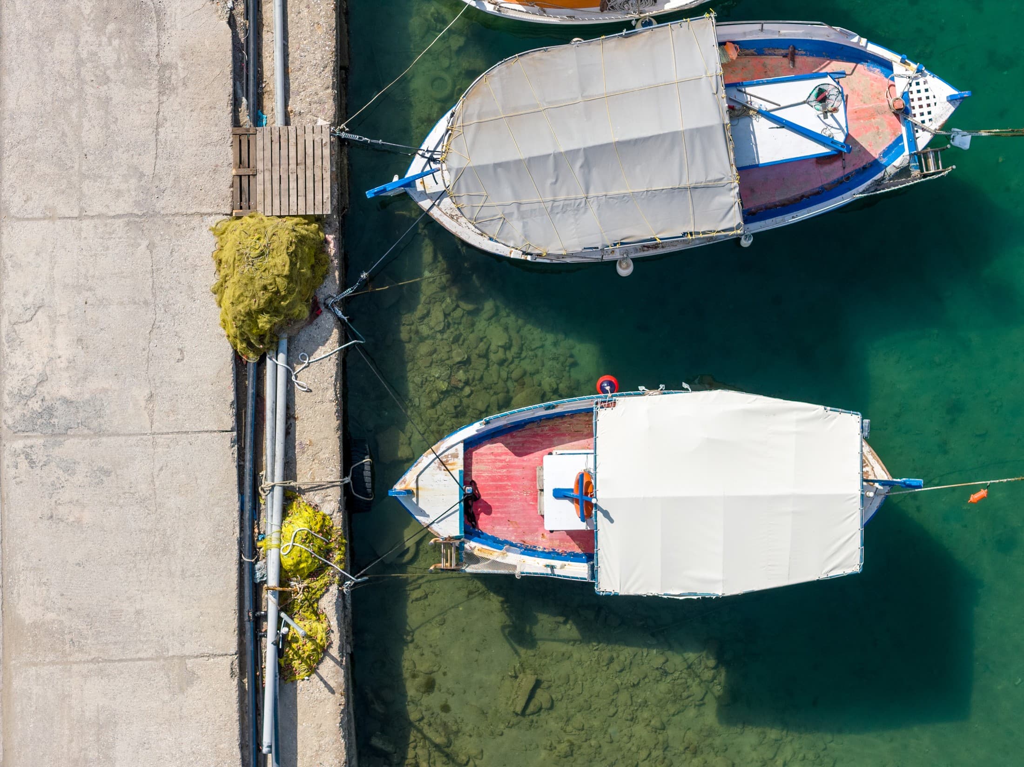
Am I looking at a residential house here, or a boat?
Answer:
boat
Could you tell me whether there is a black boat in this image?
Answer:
No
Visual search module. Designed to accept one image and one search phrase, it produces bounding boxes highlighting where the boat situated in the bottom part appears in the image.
[386,389,922,600]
